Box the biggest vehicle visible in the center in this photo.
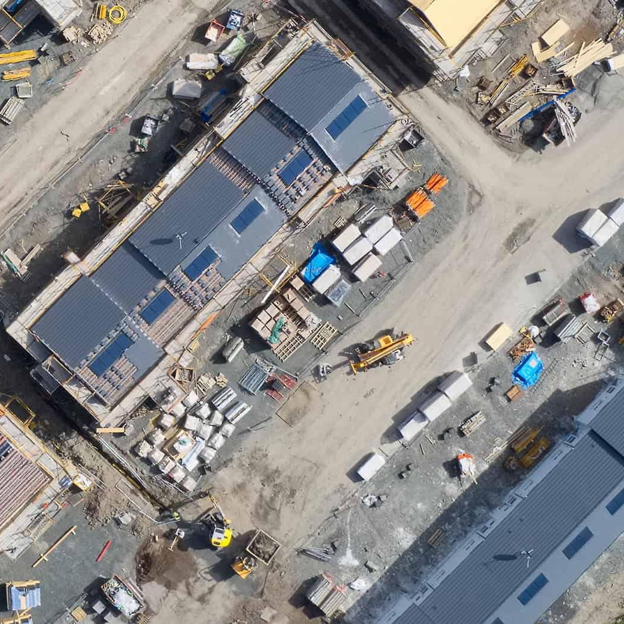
[332,331,418,378]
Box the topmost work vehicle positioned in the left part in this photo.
[199,488,239,554]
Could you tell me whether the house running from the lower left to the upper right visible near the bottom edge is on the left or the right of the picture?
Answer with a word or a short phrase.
right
